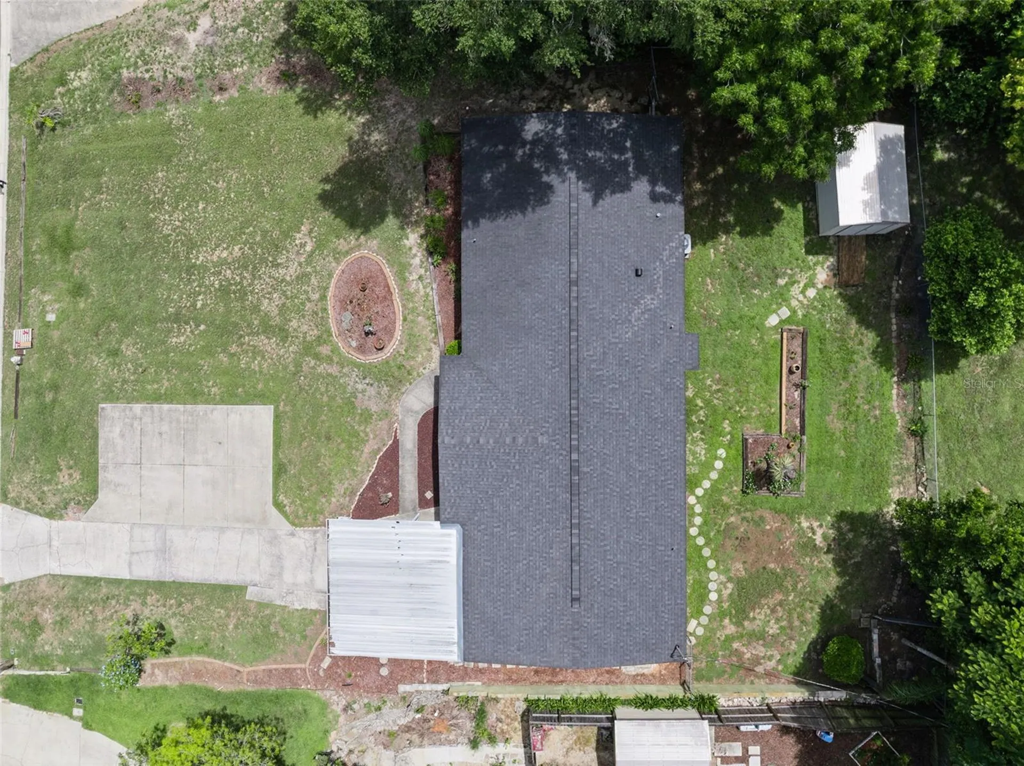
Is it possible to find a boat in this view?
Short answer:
No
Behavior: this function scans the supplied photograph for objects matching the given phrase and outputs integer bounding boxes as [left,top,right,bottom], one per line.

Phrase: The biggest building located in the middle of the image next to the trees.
[437,111,699,670]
